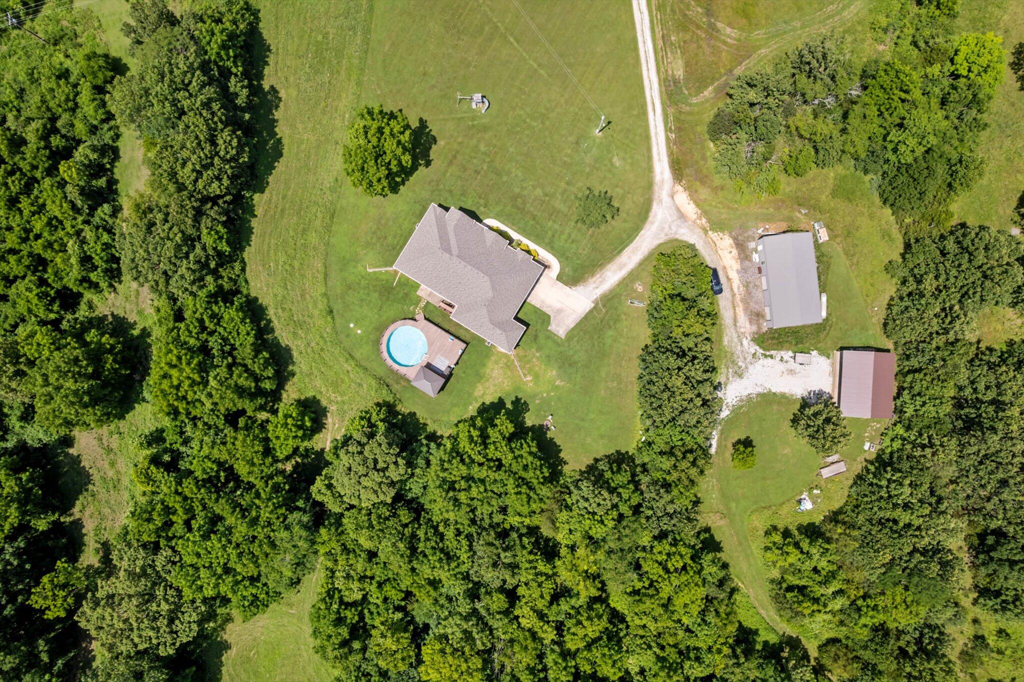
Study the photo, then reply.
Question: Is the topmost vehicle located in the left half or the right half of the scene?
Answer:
right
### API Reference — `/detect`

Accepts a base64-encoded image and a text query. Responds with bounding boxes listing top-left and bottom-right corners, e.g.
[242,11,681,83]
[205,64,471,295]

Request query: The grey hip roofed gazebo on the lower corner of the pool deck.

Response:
[412,366,445,397]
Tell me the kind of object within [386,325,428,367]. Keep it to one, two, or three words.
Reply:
swimming pool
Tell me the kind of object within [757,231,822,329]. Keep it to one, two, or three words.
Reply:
building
